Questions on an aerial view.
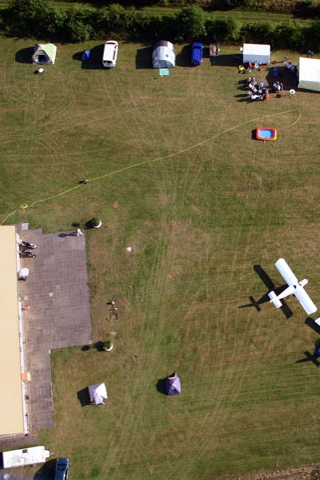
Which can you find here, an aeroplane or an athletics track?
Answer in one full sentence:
Looking from above, you can make out an aeroplane.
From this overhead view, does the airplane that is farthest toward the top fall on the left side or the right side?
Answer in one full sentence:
The airplane that is farthest toward the top is on the right side of the image.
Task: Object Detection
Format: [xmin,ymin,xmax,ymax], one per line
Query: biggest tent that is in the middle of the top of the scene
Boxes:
[151,45,174,71]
